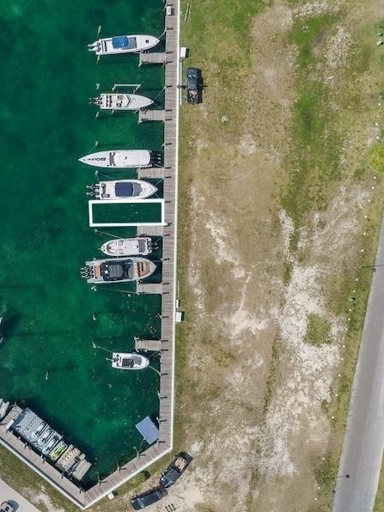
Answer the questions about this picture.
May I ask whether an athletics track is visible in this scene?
No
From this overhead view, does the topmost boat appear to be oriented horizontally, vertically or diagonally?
horizontally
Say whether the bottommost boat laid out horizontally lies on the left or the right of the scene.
left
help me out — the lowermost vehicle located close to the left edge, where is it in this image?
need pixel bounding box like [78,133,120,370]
[0,499,15,512]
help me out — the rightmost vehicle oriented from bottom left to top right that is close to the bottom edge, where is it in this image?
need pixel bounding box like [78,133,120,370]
[159,452,191,488]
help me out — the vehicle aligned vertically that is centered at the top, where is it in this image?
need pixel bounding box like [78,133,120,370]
[184,68,201,105]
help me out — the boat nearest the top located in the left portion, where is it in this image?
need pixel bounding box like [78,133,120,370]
[88,32,163,55]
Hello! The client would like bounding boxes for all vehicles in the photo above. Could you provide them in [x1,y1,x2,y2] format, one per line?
[0,499,15,512]
[184,68,201,105]
[159,452,191,488]
[132,485,169,511]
